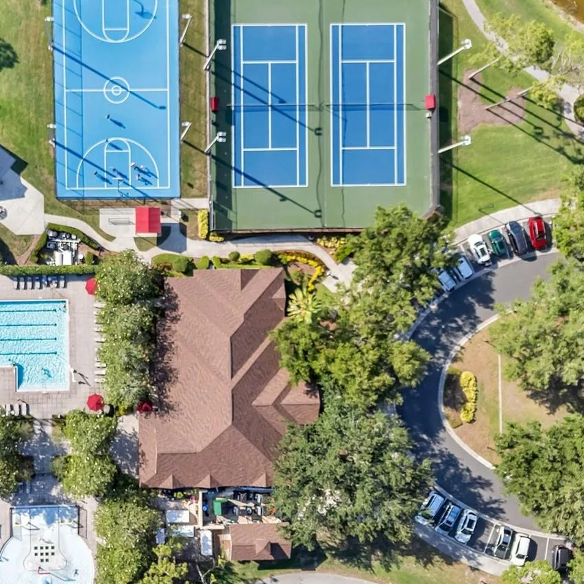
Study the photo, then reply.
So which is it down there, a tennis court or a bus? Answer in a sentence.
This aerial view contains a tennis court.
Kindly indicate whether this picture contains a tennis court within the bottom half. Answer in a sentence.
No, the scene shows no tennis court within the bottom half.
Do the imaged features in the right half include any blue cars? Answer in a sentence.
Yes, a blue car appears in the right half.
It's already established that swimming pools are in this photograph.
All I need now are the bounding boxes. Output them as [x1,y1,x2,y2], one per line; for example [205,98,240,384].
[0,299,71,392]
[0,506,96,584]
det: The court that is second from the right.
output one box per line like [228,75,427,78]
[213,0,323,229]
